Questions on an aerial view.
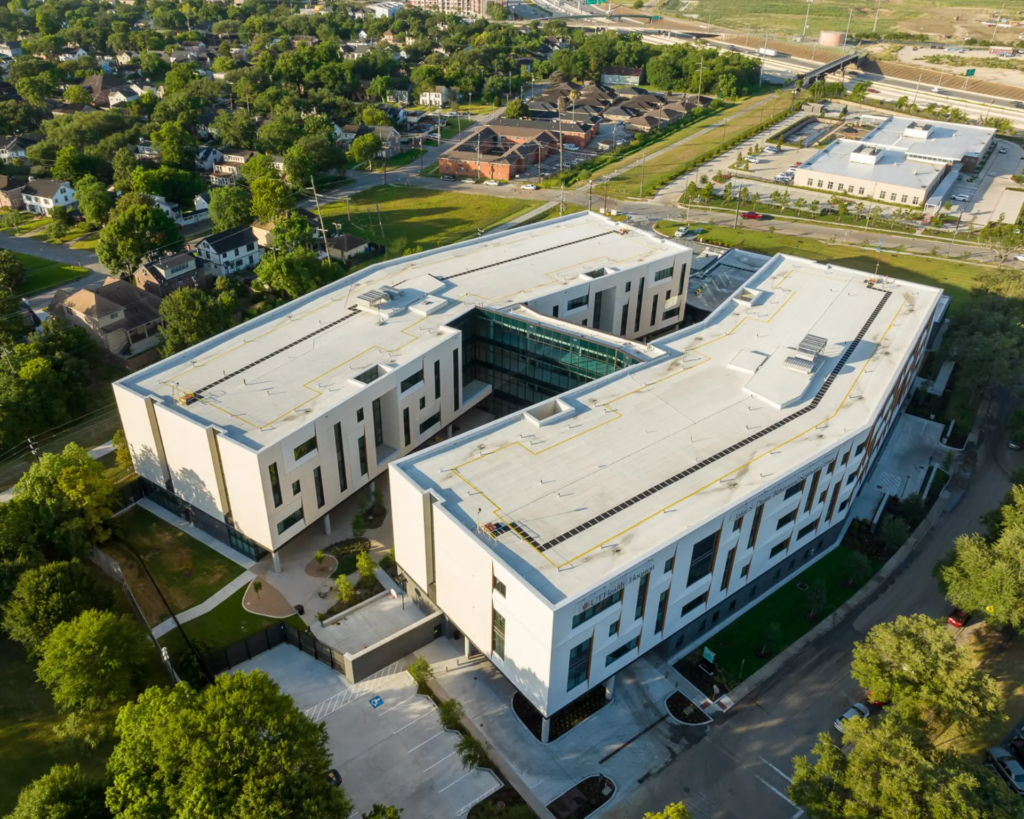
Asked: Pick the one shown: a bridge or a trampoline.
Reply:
bridge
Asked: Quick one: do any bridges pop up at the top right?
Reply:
Yes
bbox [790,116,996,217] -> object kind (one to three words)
building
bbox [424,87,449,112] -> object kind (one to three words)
house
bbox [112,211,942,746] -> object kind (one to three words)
building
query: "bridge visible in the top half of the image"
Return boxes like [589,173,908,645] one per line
[790,51,867,91]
